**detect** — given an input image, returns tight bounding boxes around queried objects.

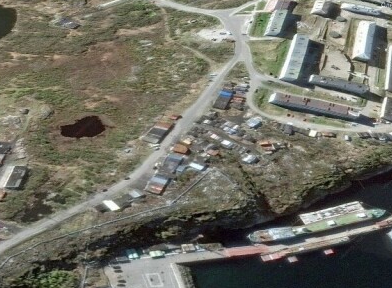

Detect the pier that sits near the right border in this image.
[267,219,392,254]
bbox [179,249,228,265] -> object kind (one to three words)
pier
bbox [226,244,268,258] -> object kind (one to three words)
pier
